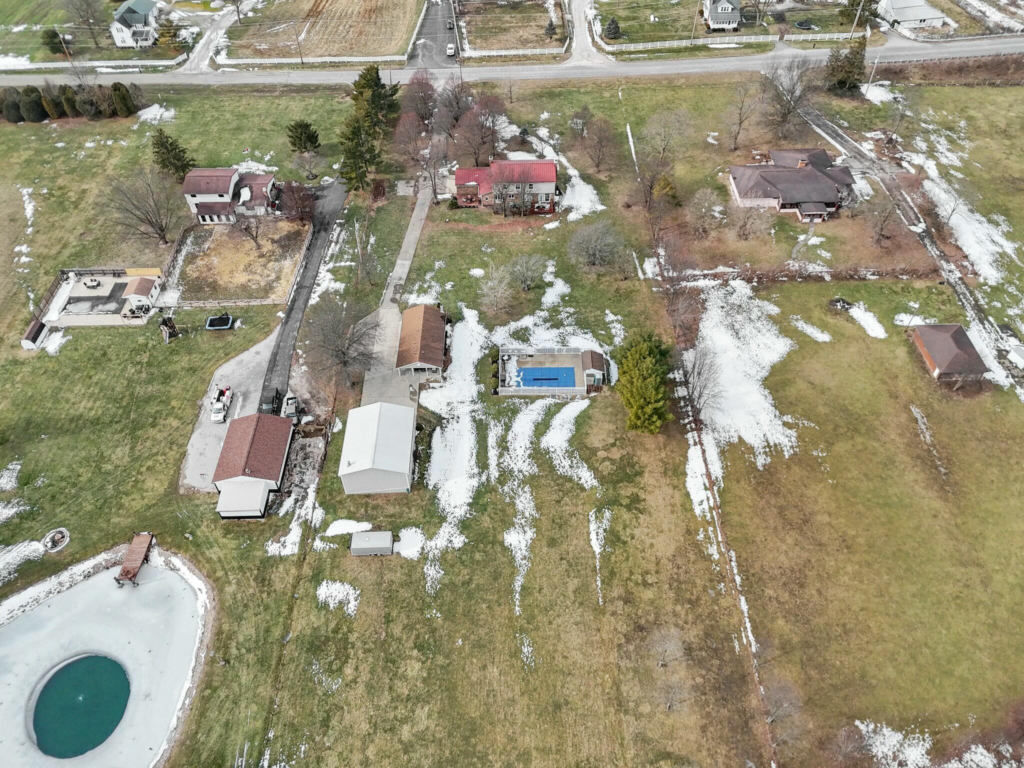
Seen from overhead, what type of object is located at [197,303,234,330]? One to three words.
trampoline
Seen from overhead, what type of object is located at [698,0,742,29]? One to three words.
house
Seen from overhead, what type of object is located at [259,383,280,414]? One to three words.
truck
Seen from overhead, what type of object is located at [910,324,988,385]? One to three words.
building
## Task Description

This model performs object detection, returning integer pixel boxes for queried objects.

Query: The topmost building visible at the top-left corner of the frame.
[109,0,191,47]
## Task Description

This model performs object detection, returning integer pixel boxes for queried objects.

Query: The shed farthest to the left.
[18,317,48,348]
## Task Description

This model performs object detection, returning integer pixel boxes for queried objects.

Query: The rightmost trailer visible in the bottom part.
[343,529,394,554]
